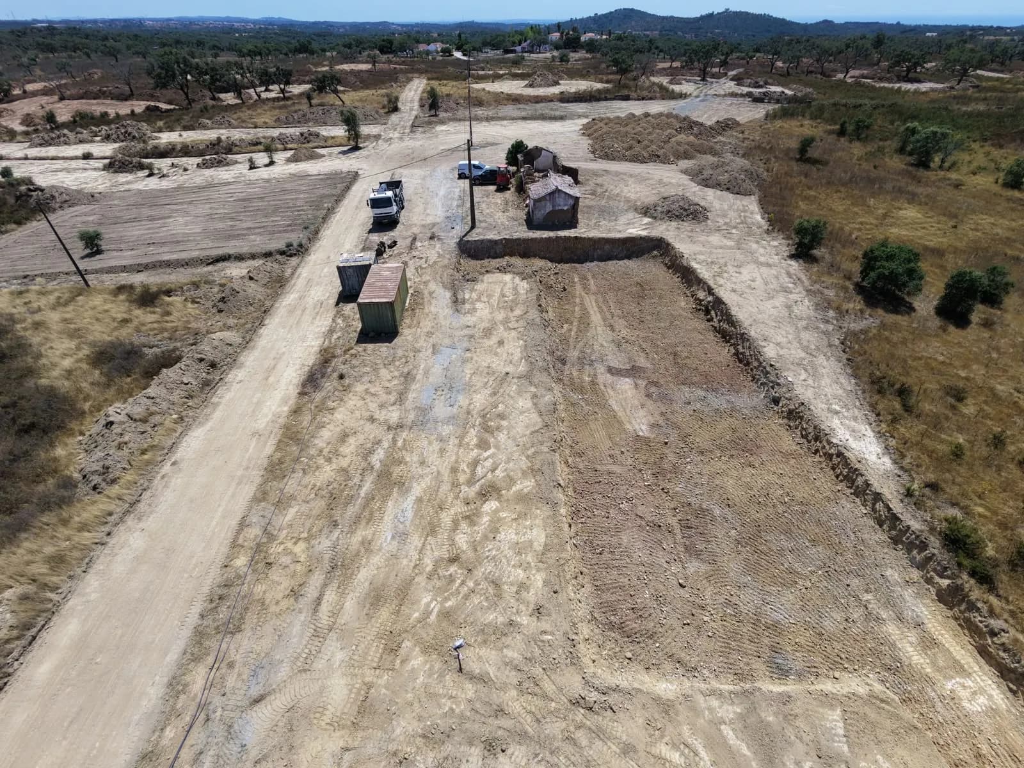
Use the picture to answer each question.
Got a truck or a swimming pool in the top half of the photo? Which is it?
truck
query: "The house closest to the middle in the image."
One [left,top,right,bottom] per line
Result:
[526,170,584,226]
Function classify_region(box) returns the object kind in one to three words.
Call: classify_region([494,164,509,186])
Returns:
work vehicle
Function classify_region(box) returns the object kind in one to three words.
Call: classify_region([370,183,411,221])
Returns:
truck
